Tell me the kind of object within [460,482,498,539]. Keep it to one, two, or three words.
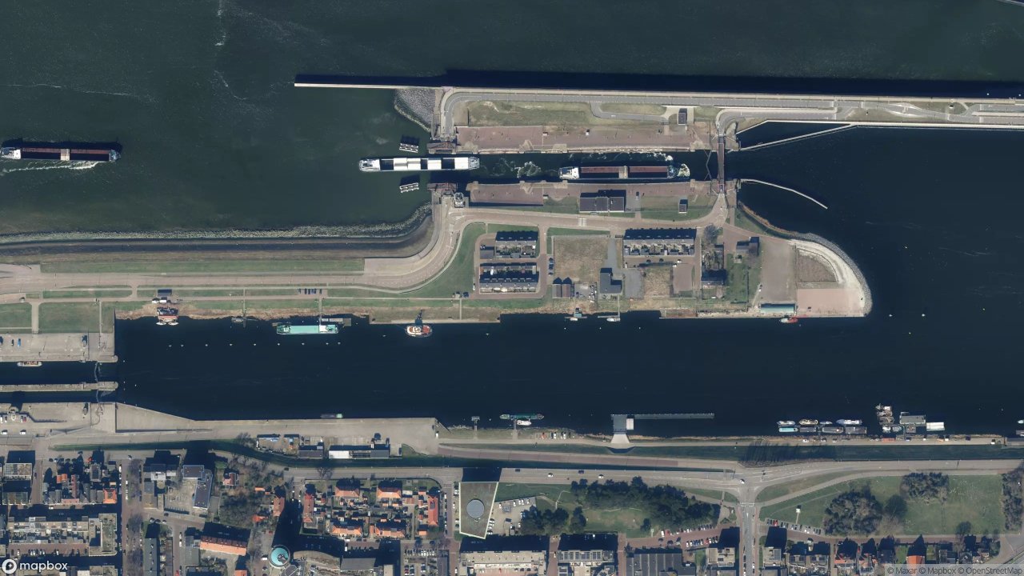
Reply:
building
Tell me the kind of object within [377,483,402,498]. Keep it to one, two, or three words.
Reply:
house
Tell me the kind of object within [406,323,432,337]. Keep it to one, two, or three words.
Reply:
boat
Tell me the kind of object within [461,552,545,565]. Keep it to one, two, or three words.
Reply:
building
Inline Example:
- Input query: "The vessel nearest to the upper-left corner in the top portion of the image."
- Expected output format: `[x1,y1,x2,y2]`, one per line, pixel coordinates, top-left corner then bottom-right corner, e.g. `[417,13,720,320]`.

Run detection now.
[1,147,121,162]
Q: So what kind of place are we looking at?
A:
port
